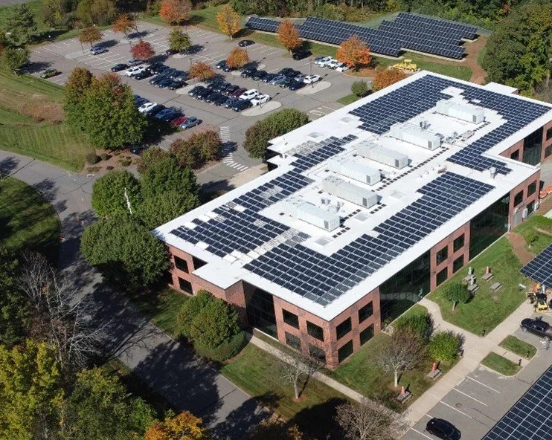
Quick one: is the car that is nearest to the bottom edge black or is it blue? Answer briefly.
black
